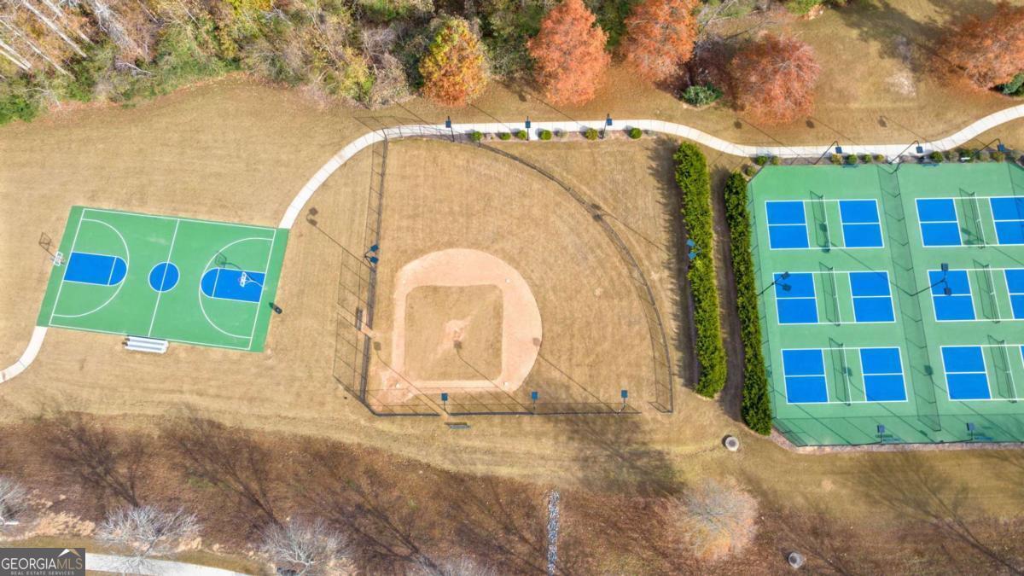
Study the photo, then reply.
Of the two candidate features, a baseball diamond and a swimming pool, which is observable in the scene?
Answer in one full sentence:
The one in the frame is a baseball diamond.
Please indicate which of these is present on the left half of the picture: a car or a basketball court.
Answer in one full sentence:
Visible on the left half of the picture is a basketball court.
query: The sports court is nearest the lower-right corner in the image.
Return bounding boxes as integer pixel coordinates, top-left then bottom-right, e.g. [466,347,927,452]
[941,345,1024,400]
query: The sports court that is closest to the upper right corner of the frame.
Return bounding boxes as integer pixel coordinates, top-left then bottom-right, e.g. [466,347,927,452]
[916,196,1024,246]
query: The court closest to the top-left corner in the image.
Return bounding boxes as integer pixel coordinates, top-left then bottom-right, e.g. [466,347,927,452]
[36,206,289,352]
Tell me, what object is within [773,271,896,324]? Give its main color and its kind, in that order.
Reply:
blue sports court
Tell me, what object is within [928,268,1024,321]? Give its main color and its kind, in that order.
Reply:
blue sports court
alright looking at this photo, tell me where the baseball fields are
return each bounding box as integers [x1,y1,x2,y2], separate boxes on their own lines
[365,137,673,416]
